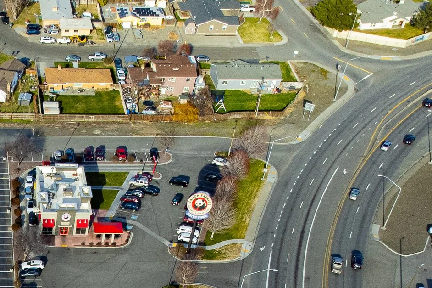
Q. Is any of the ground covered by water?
No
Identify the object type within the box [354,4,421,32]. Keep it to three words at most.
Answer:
house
